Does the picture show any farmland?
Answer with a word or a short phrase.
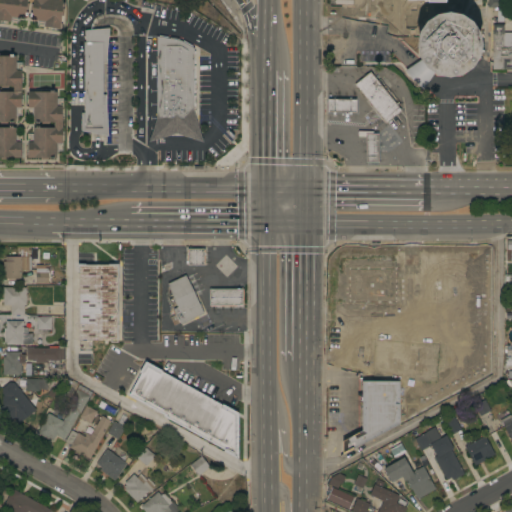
No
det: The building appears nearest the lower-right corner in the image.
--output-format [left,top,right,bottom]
[466,436,494,470]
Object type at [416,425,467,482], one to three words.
house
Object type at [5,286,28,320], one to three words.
house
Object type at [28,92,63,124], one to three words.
building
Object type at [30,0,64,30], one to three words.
building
